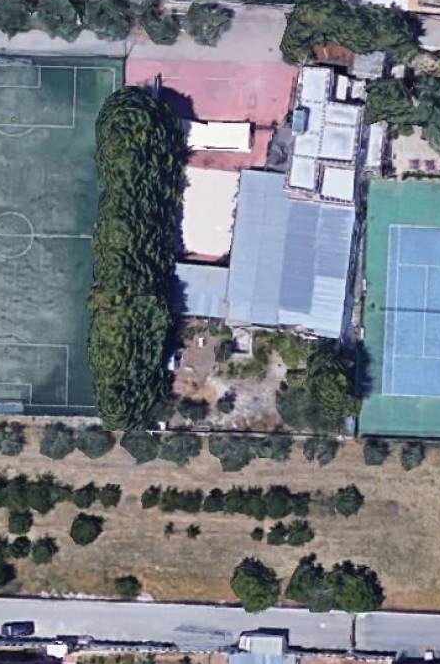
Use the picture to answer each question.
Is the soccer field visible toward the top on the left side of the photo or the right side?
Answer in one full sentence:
The soccer field visible toward the top is on the left side of the image.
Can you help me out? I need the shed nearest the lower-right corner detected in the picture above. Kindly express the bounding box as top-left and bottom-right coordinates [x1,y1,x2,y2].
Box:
[245,632,287,655]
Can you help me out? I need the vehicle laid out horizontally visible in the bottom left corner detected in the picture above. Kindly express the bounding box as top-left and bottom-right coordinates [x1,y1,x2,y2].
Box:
[1,621,35,636]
